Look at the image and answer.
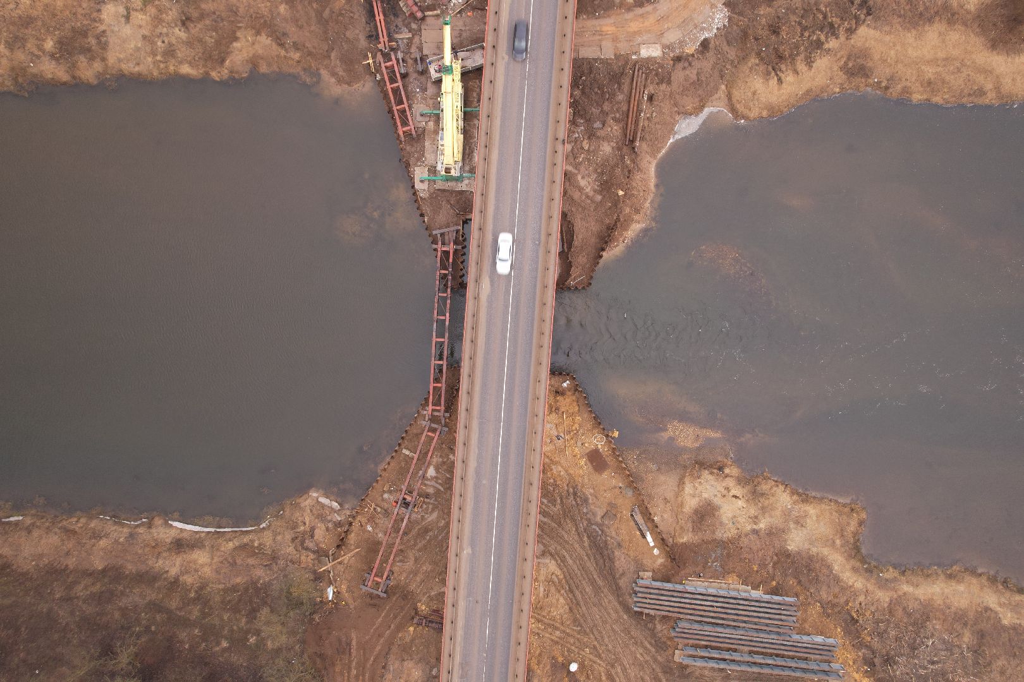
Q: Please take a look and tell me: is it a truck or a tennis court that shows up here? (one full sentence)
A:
The image shows a truck.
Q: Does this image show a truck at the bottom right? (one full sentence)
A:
No, at the bottom right there is no truck.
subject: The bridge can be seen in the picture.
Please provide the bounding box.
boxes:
[439,0,577,682]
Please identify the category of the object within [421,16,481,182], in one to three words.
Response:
truck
